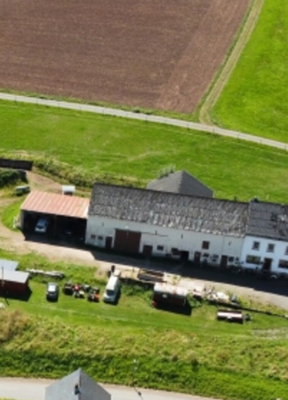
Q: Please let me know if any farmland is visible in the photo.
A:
Yes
